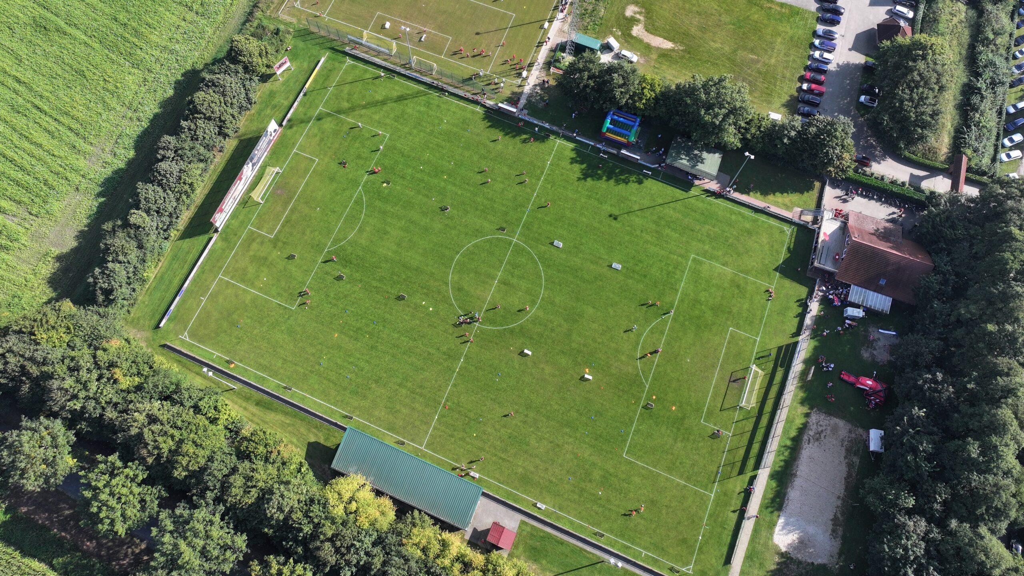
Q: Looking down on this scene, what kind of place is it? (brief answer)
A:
sports ground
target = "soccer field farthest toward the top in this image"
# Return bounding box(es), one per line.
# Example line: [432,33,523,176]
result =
[282,0,559,99]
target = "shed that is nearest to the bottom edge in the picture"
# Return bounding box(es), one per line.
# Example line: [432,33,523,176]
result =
[486,522,517,552]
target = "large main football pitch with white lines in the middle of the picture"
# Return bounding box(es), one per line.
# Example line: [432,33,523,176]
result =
[157,47,815,576]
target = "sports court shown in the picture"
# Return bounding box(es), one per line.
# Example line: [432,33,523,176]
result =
[760,398,875,576]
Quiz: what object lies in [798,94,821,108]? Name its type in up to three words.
car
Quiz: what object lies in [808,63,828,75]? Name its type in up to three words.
vehicle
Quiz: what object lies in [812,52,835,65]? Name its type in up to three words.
vehicle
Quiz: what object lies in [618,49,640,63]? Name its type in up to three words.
car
